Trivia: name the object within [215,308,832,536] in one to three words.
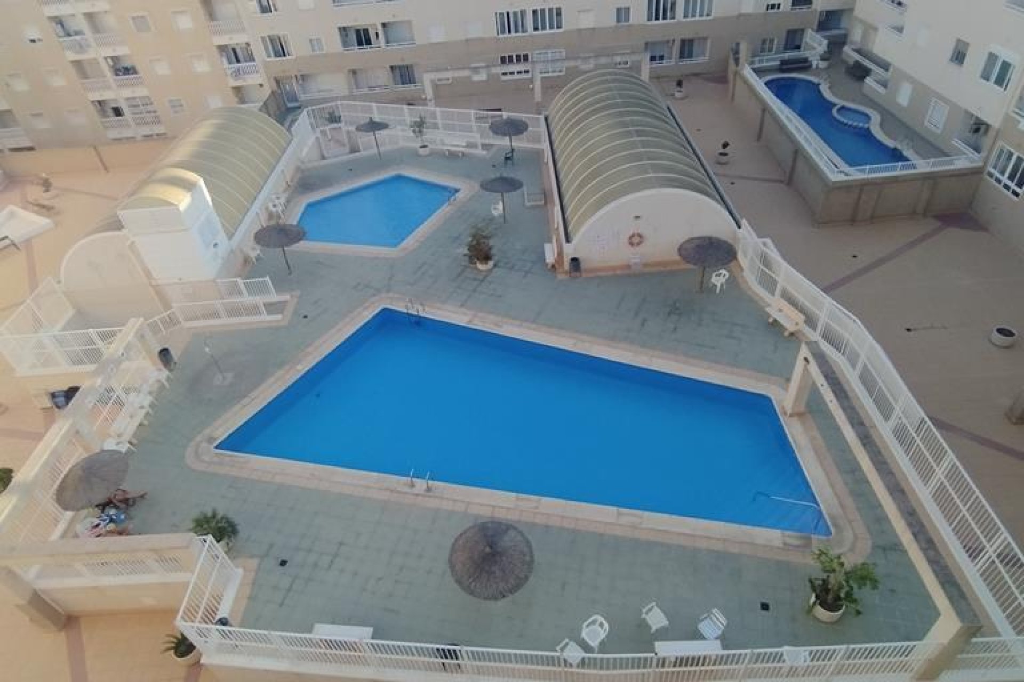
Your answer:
swimming pool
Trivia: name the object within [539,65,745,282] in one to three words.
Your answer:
building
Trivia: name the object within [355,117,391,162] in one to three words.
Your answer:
umbrella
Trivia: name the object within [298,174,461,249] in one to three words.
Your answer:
swimming pool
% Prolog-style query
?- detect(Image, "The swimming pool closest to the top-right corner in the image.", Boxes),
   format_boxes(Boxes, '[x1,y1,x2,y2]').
[768,75,909,166]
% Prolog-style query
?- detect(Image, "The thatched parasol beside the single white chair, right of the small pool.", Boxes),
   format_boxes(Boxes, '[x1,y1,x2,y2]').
[479,173,524,226]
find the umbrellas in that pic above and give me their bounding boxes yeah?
[479,173,524,226]
[448,525,535,611]
[54,454,137,529]
[677,235,737,298]
[490,118,528,165]
[257,223,305,277]
[355,117,391,162]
